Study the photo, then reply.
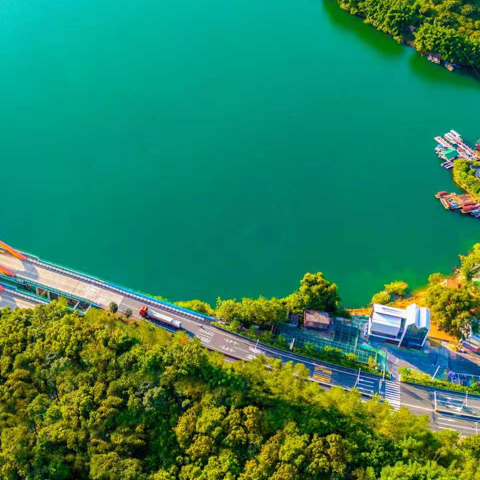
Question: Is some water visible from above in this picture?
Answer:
Yes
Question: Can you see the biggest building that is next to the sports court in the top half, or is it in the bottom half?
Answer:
bottom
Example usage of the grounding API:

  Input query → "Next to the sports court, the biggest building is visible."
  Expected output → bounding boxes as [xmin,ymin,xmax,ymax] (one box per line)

[358,300,434,353]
